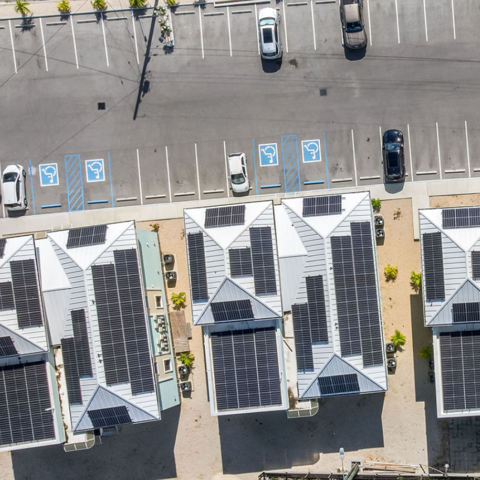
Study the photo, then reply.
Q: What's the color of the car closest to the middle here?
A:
white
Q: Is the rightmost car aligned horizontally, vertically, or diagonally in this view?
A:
vertically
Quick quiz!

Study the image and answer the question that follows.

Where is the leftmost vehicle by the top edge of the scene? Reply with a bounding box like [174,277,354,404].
[254,8,284,60]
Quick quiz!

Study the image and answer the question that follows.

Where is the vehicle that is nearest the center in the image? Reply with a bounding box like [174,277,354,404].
[227,153,251,194]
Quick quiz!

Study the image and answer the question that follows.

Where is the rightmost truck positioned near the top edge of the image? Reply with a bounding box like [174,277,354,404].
[340,0,366,50]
